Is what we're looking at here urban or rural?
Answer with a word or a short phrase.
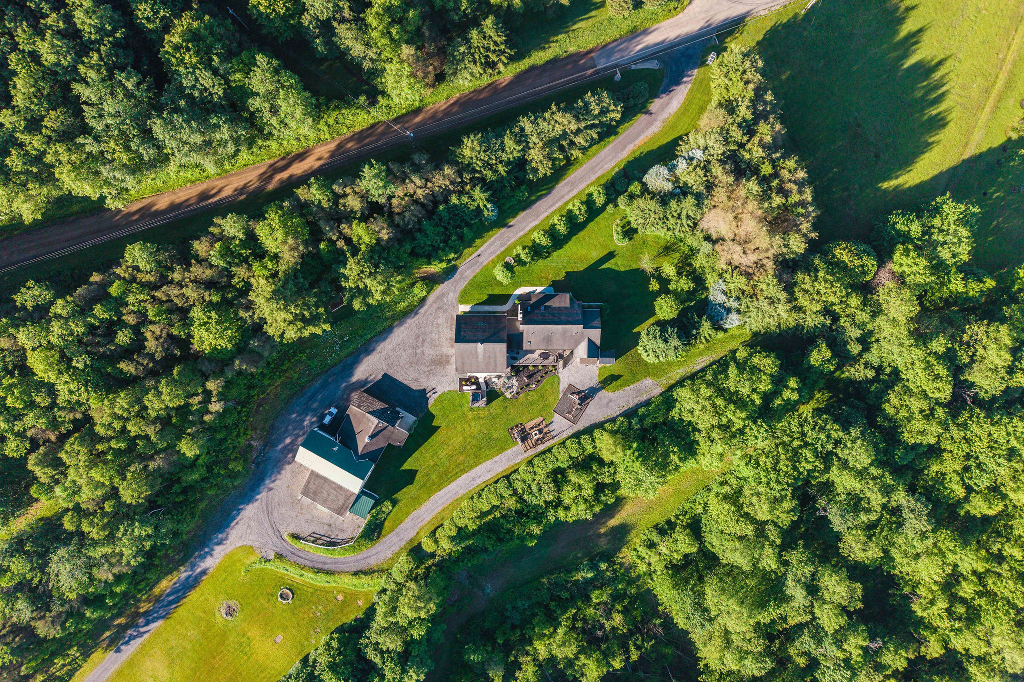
rural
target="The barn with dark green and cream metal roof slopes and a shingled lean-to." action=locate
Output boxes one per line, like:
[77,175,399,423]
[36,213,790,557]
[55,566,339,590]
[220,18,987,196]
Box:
[295,428,378,519]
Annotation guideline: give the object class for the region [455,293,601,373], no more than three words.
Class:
house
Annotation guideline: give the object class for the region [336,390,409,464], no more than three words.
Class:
building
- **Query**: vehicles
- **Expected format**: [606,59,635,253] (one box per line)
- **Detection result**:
[321,406,337,427]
